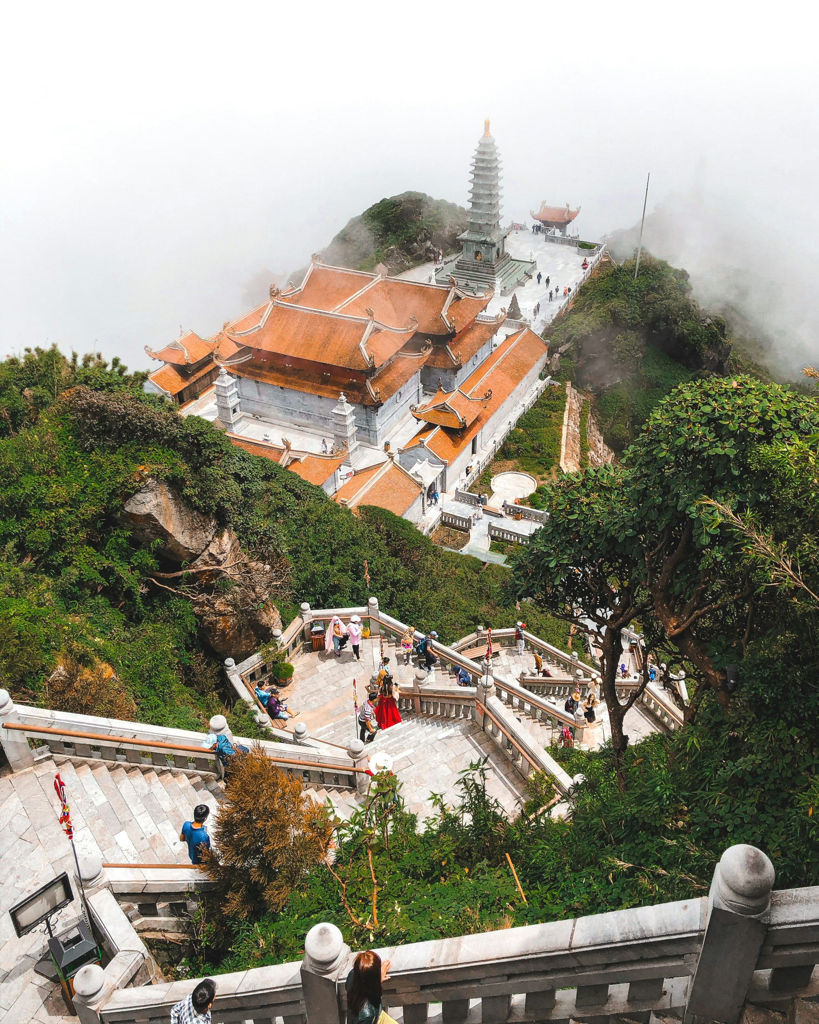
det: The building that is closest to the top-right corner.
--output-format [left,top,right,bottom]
[533,189,584,233]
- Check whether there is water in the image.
Yes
